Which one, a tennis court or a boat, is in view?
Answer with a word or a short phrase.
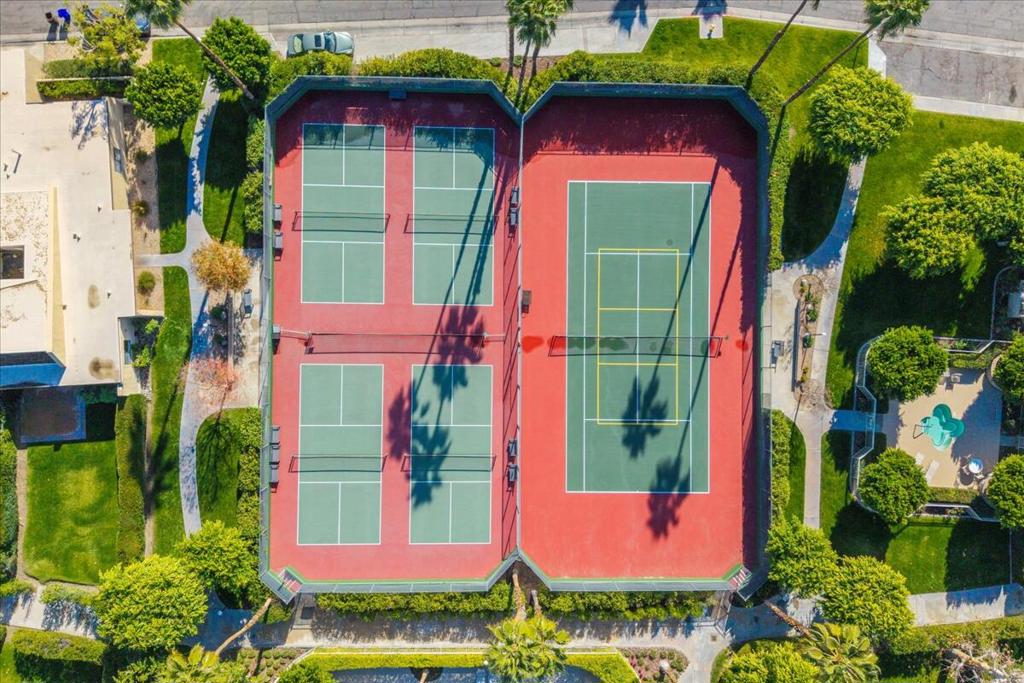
tennis court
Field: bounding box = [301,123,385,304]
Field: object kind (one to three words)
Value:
sports court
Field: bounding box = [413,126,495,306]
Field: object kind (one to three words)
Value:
sports court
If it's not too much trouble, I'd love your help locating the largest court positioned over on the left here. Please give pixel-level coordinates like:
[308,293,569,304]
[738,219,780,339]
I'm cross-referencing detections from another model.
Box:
[270,90,521,580]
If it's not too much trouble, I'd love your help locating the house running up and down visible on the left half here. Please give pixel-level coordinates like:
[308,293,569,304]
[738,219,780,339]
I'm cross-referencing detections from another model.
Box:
[0,48,138,389]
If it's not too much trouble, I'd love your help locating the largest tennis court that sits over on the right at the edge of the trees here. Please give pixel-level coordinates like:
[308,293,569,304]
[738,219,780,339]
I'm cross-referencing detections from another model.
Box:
[518,96,756,580]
